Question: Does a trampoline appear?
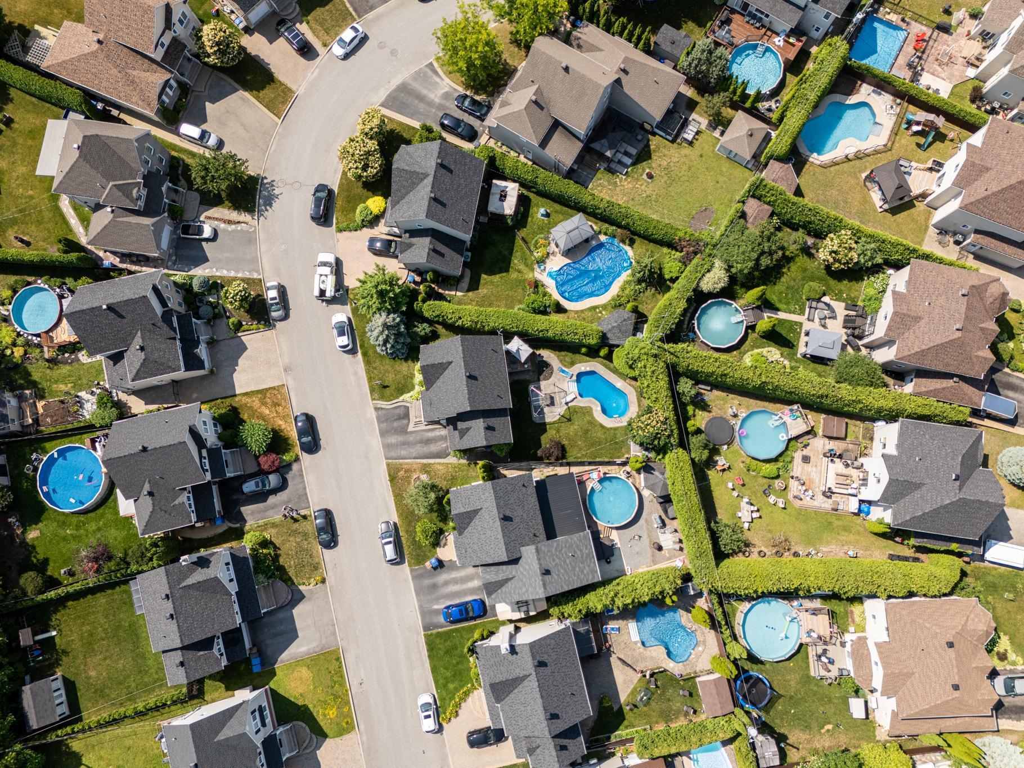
Yes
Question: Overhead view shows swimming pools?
Yes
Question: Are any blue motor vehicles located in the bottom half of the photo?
Yes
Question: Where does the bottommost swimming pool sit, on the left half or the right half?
right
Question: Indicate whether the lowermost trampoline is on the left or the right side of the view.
right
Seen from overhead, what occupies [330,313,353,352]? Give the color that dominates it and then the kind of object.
white car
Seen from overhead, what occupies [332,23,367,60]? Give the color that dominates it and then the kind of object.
white car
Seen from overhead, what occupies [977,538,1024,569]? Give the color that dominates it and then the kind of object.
white trailer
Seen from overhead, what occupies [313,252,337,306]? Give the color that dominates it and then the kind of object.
white truck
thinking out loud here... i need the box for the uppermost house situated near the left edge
[40,0,218,119]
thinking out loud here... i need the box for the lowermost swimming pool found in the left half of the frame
[39,444,112,512]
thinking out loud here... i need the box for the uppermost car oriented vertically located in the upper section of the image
[311,184,331,225]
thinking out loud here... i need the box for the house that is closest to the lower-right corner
[841,587,1000,737]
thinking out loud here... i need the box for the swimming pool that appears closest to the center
[573,367,632,425]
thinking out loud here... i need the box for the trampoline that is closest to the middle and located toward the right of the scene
[702,416,734,446]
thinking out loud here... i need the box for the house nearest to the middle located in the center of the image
[413,334,513,452]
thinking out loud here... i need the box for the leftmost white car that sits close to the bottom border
[418,693,438,732]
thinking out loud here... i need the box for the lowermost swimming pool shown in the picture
[689,738,734,768]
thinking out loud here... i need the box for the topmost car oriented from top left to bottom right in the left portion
[275,16,310,56]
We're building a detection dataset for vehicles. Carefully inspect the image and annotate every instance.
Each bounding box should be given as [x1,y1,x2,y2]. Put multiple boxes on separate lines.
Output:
[330,313,353,352]
[311,184,331,225]
[312,508,337,549]
[265,280,288,322]
[418,693,438,732]
[275,16,310,56]
[469,727,507,748]
[294,412,317,453]
[332,23,367,60]
[241,472,283,496]
[452,93,492,122]
[437,113,479,142]
[377,521,400,563]
[443,598,484,621]
[365,237,400,256]
[178,221,215,240]
[313,252,337,306]
[993,674,1024,696]
[177,122,220,149]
